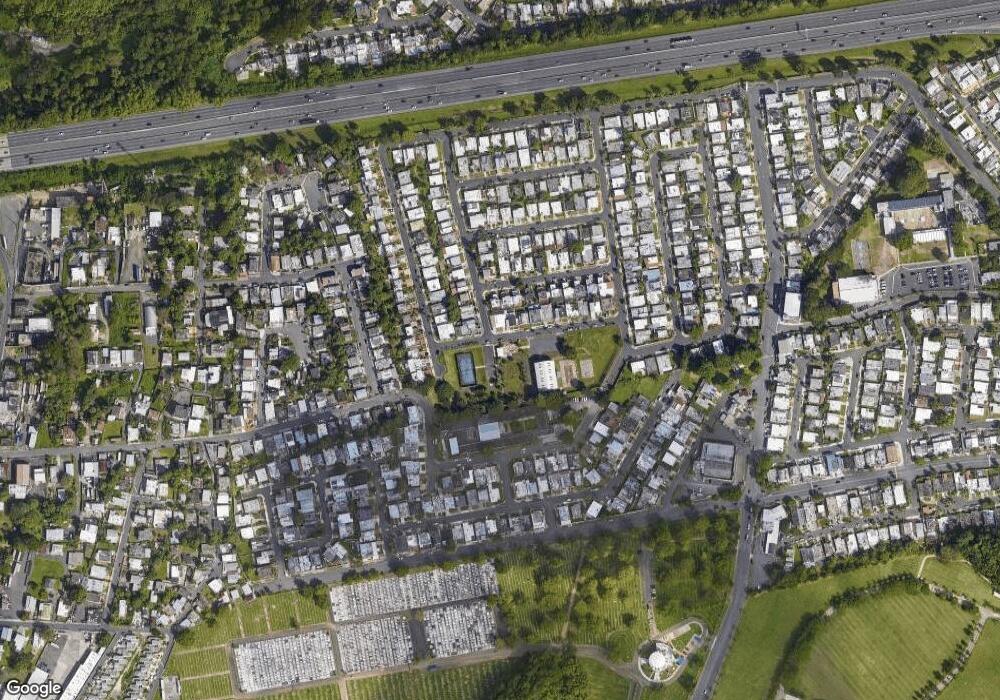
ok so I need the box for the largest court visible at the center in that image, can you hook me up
[455,351,477,387]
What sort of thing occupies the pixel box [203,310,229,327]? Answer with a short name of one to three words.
house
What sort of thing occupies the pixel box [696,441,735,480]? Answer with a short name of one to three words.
building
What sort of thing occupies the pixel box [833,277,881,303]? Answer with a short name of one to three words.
building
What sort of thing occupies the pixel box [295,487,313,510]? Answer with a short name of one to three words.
house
